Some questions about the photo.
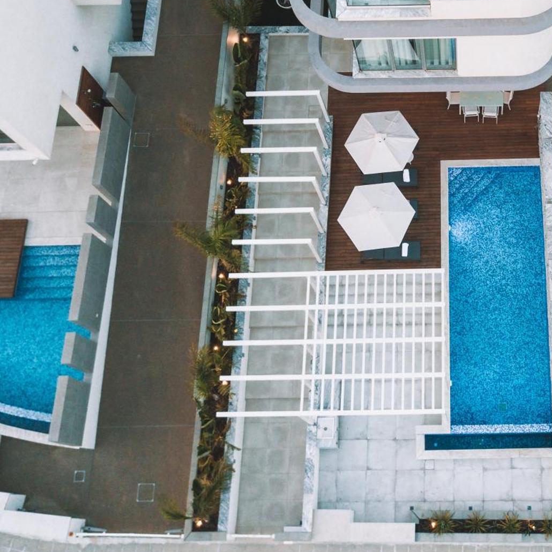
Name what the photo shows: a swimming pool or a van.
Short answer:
swimming pool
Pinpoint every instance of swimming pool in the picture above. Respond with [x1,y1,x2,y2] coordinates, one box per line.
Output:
[416,159,552,459]
[0,235,106,447]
